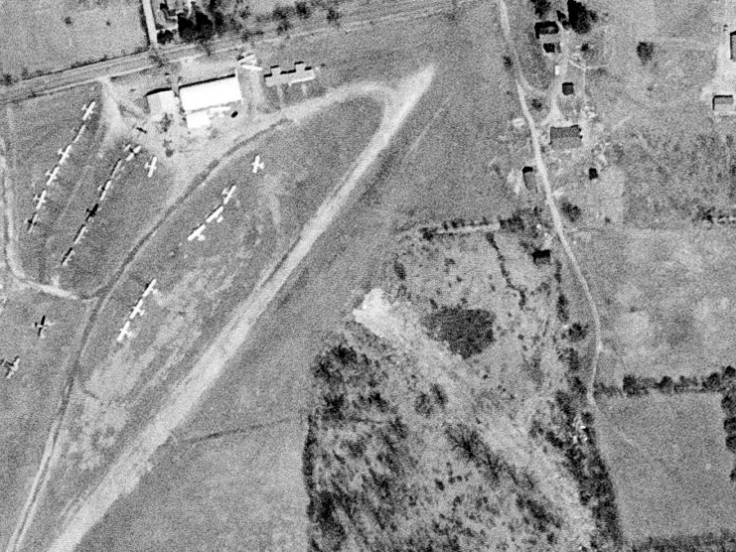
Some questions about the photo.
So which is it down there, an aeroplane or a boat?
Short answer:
aeroplane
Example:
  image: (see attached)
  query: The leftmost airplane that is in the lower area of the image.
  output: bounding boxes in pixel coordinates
[0,357,19,378]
